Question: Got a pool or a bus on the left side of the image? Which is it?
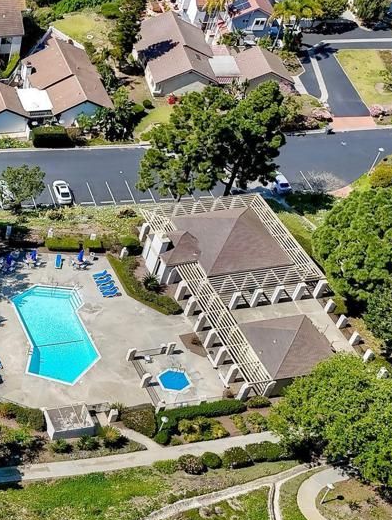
pool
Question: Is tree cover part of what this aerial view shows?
Yes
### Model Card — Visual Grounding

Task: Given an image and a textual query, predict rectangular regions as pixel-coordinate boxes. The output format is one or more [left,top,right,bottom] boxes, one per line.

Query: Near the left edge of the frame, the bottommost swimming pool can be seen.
[10,280,101,385]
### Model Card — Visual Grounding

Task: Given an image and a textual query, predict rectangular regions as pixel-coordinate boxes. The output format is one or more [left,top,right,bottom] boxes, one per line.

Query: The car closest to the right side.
[362,21,392,36]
